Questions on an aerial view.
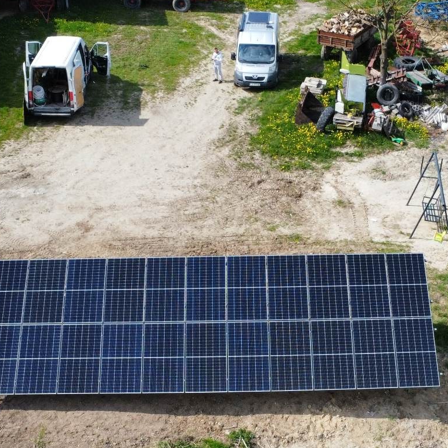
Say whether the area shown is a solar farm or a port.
solar farm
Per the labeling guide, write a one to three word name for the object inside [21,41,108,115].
van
